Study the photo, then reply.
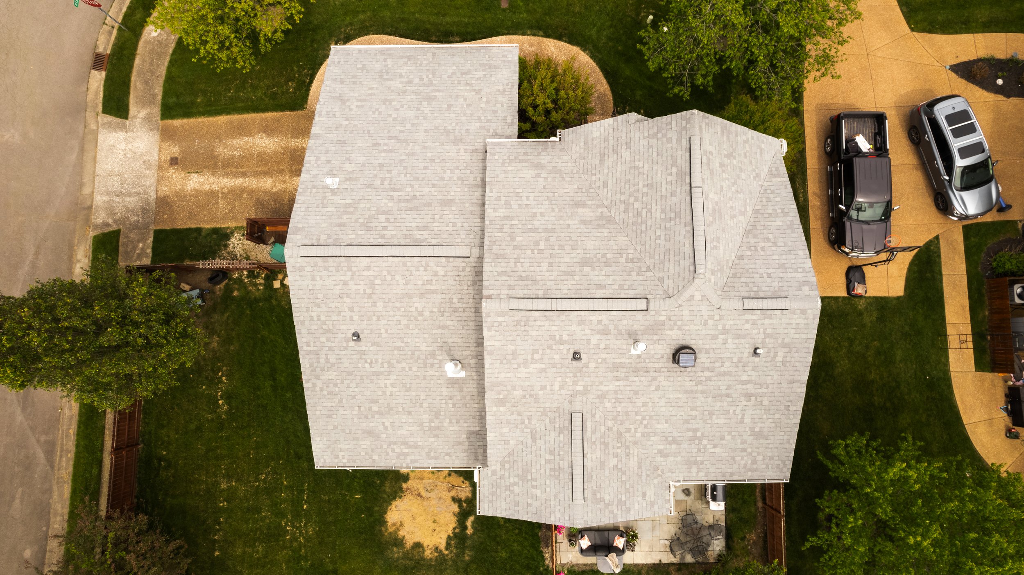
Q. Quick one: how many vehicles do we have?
2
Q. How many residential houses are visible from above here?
one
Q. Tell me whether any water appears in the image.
No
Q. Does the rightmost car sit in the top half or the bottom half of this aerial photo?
top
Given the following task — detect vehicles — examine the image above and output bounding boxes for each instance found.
[908,97,996,221]
[825,113,900,261]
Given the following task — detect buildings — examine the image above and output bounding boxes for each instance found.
[285,43,821,526]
